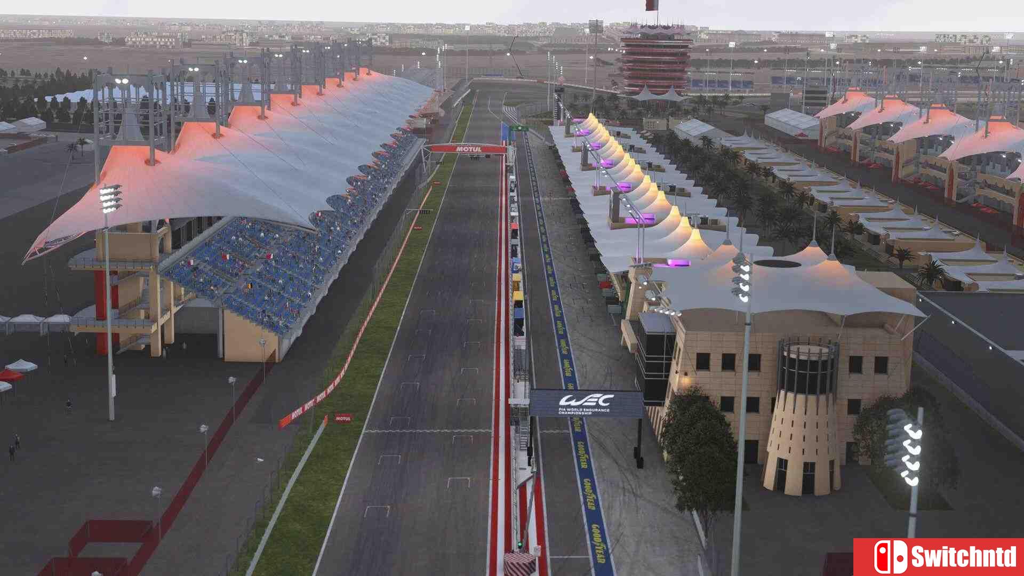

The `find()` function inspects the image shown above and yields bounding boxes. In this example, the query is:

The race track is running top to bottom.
[314,90,506,576]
